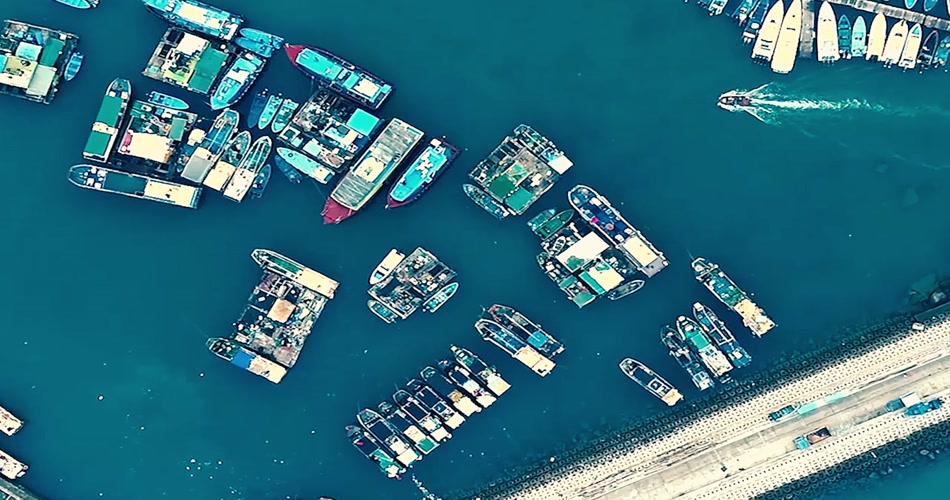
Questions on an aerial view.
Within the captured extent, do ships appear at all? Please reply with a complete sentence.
Yes, there's a ship down there.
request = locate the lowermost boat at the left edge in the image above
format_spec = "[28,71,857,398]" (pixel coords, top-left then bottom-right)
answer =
[0,450,29,482]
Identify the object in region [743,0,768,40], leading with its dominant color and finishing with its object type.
blue boat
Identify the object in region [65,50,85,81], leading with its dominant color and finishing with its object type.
blue boat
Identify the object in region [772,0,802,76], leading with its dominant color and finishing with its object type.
white boat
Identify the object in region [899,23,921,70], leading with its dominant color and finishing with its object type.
white boat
